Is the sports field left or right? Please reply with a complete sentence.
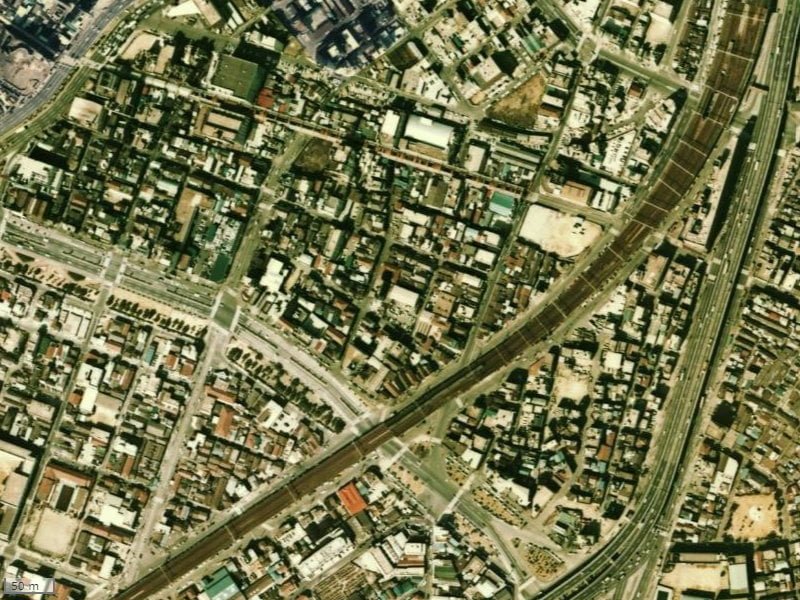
The sports field is on the right side of the image.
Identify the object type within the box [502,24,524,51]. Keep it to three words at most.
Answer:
building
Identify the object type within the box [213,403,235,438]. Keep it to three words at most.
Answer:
building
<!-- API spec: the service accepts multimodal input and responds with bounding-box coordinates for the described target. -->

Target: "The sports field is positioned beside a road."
[520,205,603,256]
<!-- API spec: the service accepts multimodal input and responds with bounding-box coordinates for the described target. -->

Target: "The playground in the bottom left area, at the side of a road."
[33,508,80,557]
